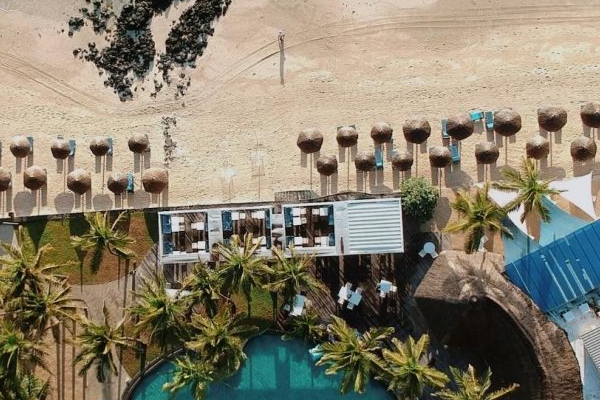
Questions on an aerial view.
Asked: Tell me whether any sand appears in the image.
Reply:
Yes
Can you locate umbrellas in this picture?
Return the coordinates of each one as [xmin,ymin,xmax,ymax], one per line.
[128,133,150,154]
[494,108,521,136]
[11,137,31,156]
[0,167,11,191]
[579,101,600,130]
[403,117,431,144]
[336,127,358,148]
[316,156,336,175]
[524,135,548,158]
[537,105,566,134]
[475,140,498,164]
[391,151,412,172]
[143,169,167,193]
[445,113,472,140]
[68,170,91,192]
[91,136,110,155]
[429,147,450,168]
[108,174,128,193]
[355,152,375,171]
[298,129,323,153]
[25,166,47,189]
[371,122,392,143]
[52,139,71,157]
[569,136,595,161]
